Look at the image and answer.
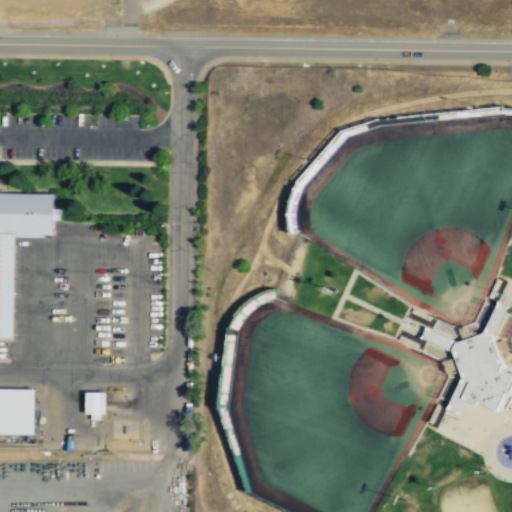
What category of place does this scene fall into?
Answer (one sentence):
The area seen from above is a sports ground.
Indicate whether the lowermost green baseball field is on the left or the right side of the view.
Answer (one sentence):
The lowermost green baseball field appears in the right half of the scene.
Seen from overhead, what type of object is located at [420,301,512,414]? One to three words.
building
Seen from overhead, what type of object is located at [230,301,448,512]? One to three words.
baseball field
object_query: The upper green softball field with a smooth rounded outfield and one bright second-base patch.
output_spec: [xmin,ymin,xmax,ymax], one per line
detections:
[297,114,512,328]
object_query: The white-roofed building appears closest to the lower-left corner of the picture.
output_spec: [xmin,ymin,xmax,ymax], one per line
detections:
[0,389,38,436]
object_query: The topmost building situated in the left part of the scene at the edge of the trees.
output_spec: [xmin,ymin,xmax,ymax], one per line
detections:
[0,193,64,339]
